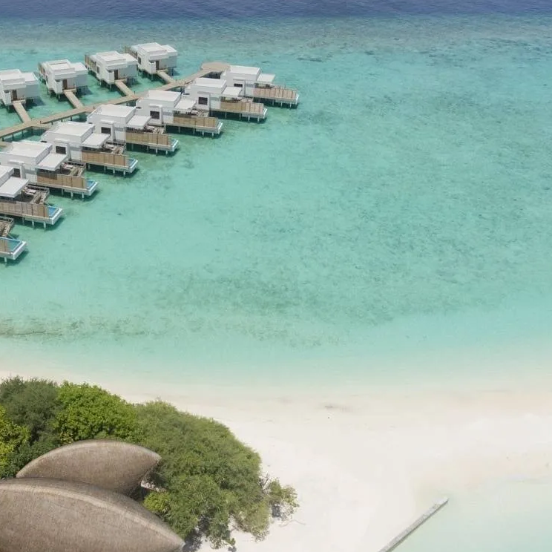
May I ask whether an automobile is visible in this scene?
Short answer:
No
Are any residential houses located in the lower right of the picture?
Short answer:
No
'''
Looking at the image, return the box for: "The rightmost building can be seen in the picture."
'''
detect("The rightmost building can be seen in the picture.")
[221,66,292,110]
